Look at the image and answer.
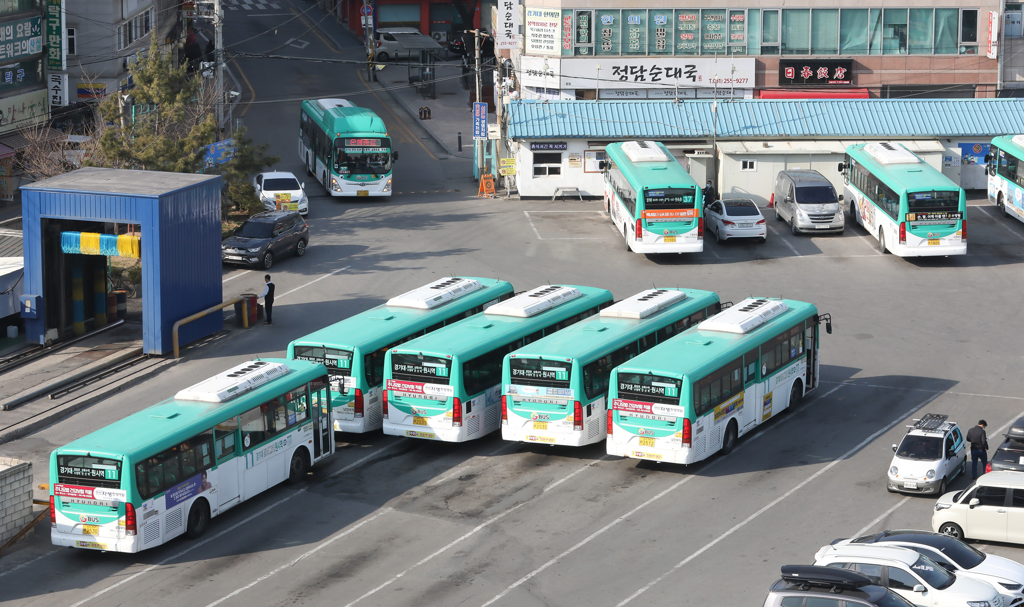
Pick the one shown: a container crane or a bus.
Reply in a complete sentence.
Of the two, only a bus appears.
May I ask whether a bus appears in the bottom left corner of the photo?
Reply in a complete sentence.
Yes, the scene does show a bus in the bottom left corner of the photo.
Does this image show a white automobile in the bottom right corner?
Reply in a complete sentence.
Yes, the scene does show a white automobile in the bottom right corner.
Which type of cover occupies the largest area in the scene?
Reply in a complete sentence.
The bulk of the photo consists of paved ground.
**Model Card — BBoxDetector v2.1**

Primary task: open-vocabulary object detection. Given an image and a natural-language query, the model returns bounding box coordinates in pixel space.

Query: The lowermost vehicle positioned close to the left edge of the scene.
[50,358,356,553]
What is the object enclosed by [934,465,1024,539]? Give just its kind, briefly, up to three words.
car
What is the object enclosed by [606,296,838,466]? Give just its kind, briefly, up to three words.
bus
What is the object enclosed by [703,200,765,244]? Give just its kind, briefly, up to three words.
car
